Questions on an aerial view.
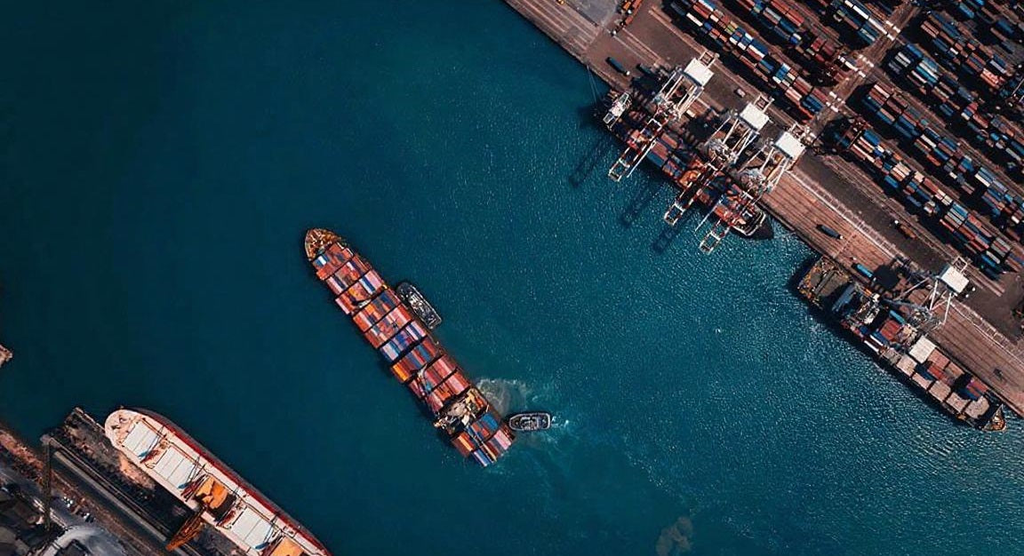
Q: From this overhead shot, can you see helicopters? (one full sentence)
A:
No, the photo shows no helicopter.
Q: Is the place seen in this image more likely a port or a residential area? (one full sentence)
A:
The area seen from above is a port.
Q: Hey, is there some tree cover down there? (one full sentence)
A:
No, tree cover can't be seen anywhere here.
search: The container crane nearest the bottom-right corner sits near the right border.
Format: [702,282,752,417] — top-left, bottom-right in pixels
[879,251,975,322]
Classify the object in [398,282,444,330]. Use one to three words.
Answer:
boat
